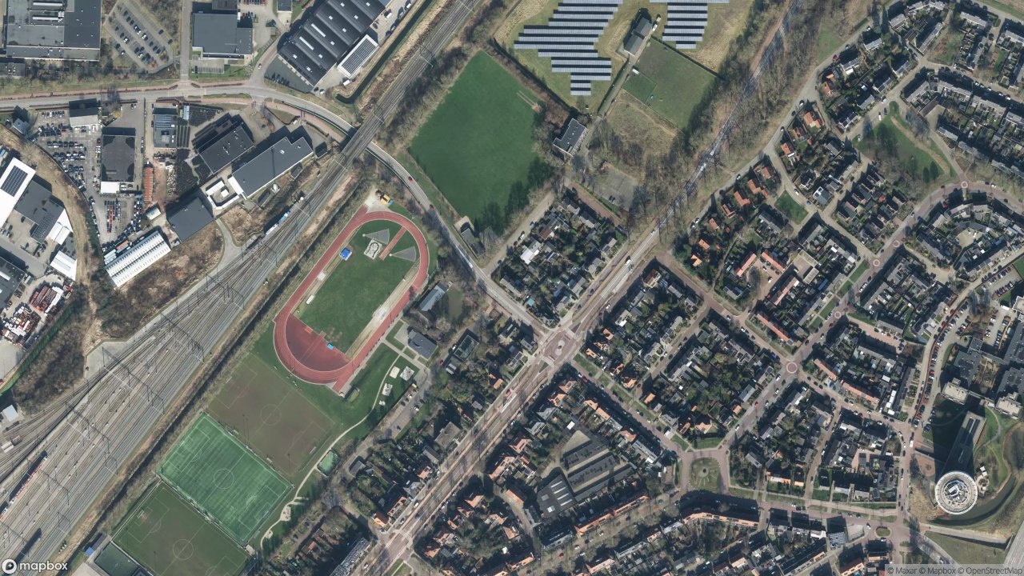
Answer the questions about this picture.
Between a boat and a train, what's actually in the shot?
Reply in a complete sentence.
This aerial view contains a train.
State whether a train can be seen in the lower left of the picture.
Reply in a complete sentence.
Yes, a train can be seen in the lower left of the picture.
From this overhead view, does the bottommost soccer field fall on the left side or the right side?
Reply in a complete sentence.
The bottommost soccer field appears in the left half of the scene.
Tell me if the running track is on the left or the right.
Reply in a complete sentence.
The running track is on the left side of the image.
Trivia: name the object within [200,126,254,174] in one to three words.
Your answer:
building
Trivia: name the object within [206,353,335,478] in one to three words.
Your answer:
soccer field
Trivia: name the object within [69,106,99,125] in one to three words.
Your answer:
building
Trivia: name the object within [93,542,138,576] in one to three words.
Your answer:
sports court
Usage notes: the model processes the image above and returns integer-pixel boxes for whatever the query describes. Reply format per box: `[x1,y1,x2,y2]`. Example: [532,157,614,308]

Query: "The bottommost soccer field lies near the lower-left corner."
[111,483,248,576]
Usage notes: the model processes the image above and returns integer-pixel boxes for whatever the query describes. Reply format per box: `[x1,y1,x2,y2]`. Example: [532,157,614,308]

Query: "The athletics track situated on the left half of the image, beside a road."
[272,190,430,386]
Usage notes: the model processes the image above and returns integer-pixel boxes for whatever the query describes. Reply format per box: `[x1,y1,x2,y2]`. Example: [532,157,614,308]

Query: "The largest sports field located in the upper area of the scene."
[408,51,546,237]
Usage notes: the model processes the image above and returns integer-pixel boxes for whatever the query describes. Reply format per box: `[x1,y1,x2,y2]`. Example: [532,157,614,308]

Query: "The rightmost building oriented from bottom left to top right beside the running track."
[419,283,448,312]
